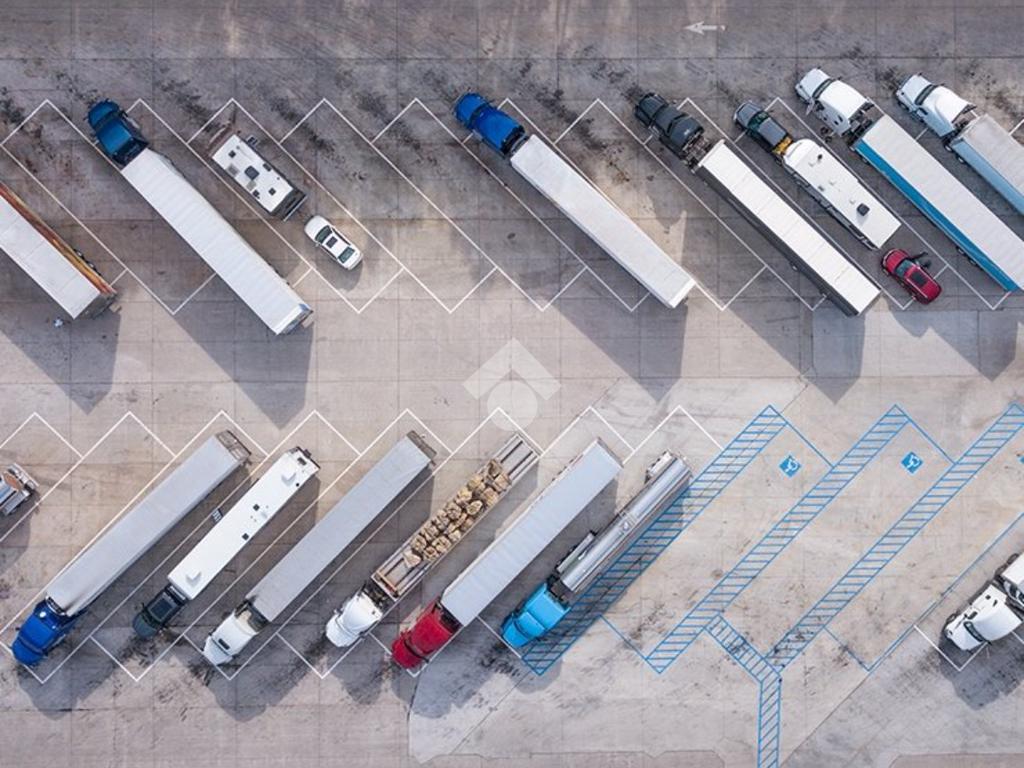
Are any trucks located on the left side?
Yes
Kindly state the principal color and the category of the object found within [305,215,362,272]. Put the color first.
white car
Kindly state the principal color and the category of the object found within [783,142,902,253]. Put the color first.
white vehicle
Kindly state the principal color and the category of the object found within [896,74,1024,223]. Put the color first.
white truck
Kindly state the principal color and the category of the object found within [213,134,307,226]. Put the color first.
white camper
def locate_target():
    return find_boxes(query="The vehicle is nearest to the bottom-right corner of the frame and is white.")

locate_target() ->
[944,553,1024,650]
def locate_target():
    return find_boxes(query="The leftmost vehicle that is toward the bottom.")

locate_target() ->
[0,462,41,525]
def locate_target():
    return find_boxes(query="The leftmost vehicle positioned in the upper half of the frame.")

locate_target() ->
[0,183,115,320]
